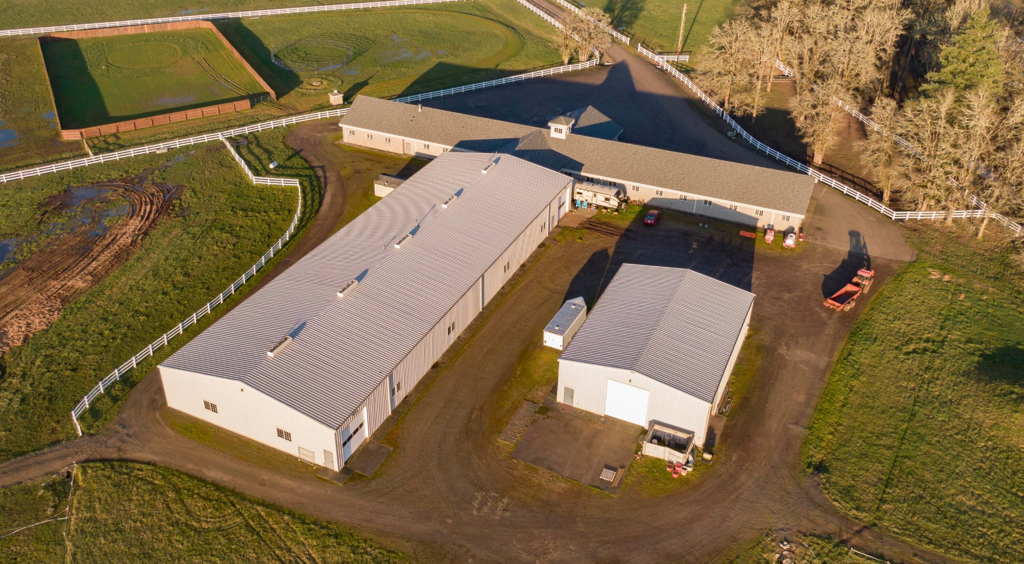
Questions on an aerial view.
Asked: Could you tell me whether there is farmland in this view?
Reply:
Yes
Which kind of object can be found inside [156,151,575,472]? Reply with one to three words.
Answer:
barn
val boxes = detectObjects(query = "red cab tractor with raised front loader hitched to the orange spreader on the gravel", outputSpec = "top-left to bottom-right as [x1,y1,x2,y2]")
[855,266,882,294]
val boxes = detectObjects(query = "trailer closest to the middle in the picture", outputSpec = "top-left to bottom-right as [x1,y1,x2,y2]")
[545,295,599,345]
